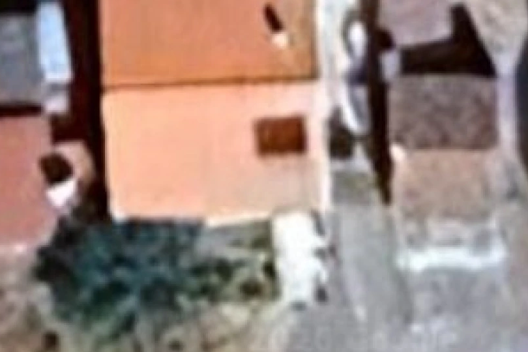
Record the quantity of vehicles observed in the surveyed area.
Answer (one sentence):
My tally gives 2 vehicles in this view.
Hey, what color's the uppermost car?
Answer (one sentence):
In this view, the uppermost car is white.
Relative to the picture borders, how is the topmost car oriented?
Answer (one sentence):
In this picture, the topmost car is oriented up and down.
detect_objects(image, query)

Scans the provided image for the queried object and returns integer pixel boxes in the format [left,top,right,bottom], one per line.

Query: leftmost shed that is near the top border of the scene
[0,13,44,107]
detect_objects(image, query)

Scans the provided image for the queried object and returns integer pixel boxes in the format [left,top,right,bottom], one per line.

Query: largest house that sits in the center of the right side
[390,73,499,226]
